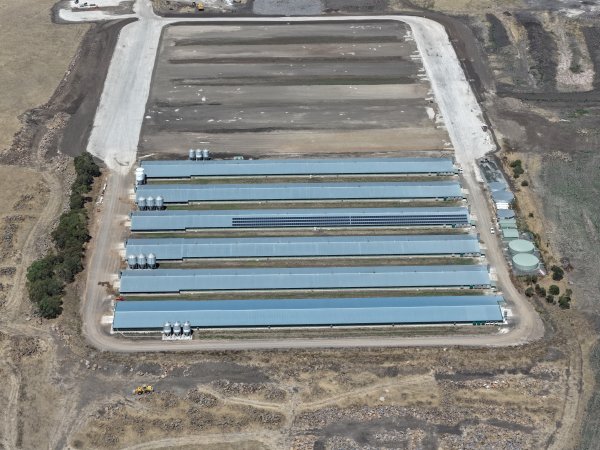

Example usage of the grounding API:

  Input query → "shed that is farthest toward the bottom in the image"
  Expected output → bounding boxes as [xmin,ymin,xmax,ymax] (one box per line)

[103,296,521,333]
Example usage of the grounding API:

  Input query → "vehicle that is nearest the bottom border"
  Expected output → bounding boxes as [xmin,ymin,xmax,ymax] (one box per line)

[131,382,152,395]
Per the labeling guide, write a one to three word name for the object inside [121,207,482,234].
shed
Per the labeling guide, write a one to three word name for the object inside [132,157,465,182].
shed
